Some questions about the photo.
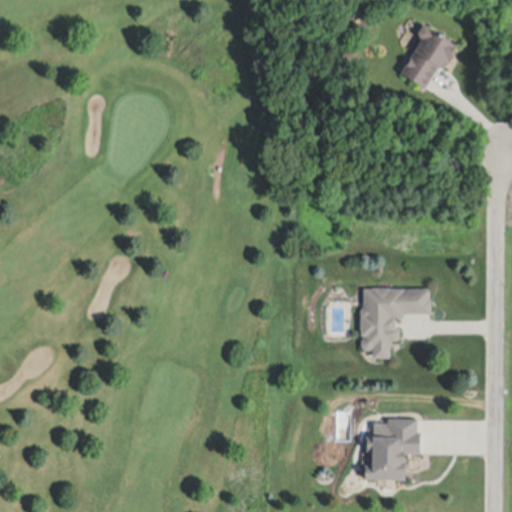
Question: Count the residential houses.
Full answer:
The number of residential houses here is 3.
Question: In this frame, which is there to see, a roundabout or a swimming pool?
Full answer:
This aerial view contains a swimming pool.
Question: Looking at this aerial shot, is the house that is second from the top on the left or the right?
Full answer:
You can find the house that is second from the top on the right side of the picture.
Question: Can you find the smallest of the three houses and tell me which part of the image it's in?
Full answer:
You can find the smallest of the three houses in the top right area of the picture.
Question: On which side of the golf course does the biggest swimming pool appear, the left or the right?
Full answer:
You can see the biggest swimming pool positioned to the right of the golf course.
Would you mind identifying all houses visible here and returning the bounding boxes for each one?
[402,22,456,88]
[366,420,422,482]
[360,288,432,360]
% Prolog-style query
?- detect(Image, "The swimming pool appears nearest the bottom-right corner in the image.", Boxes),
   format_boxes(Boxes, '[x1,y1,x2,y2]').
[336,408,352,442]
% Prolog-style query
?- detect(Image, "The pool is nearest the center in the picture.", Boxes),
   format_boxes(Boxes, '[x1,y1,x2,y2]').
[327,301,352,338]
